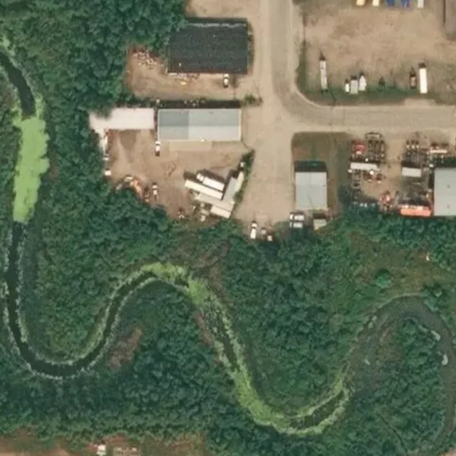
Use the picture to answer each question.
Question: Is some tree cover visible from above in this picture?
Yes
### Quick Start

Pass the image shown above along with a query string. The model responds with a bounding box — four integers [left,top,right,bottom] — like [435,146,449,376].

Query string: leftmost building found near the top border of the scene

[167,21,248,73]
